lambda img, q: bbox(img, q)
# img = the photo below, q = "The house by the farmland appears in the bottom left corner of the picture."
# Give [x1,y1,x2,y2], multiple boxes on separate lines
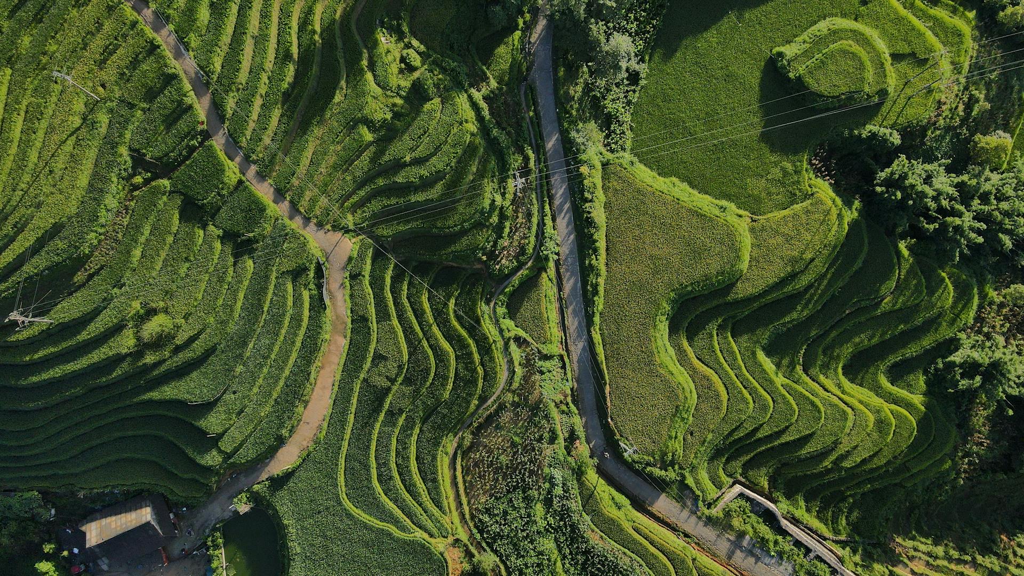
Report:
[79,491,188,548]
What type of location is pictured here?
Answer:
farmland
